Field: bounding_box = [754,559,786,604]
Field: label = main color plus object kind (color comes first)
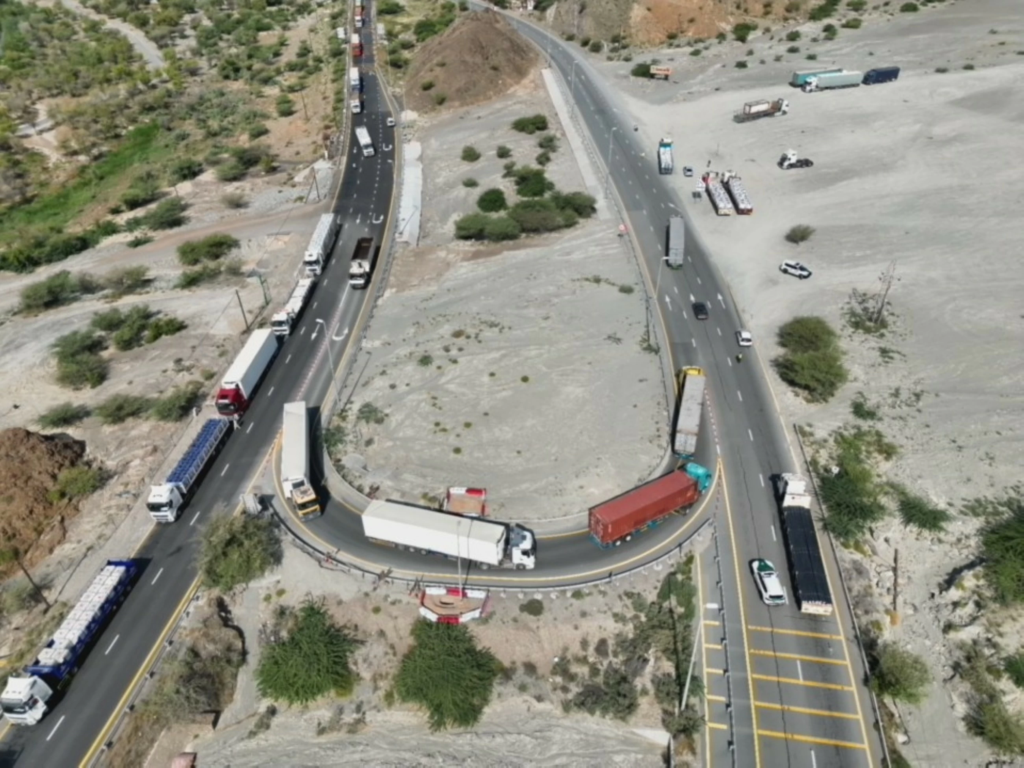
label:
white car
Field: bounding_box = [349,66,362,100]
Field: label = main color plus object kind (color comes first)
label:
white vehicle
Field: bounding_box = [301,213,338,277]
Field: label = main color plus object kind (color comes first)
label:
white truck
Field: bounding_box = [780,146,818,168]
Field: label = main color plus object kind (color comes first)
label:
white truck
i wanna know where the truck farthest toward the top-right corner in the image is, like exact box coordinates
[860,66,902,87]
